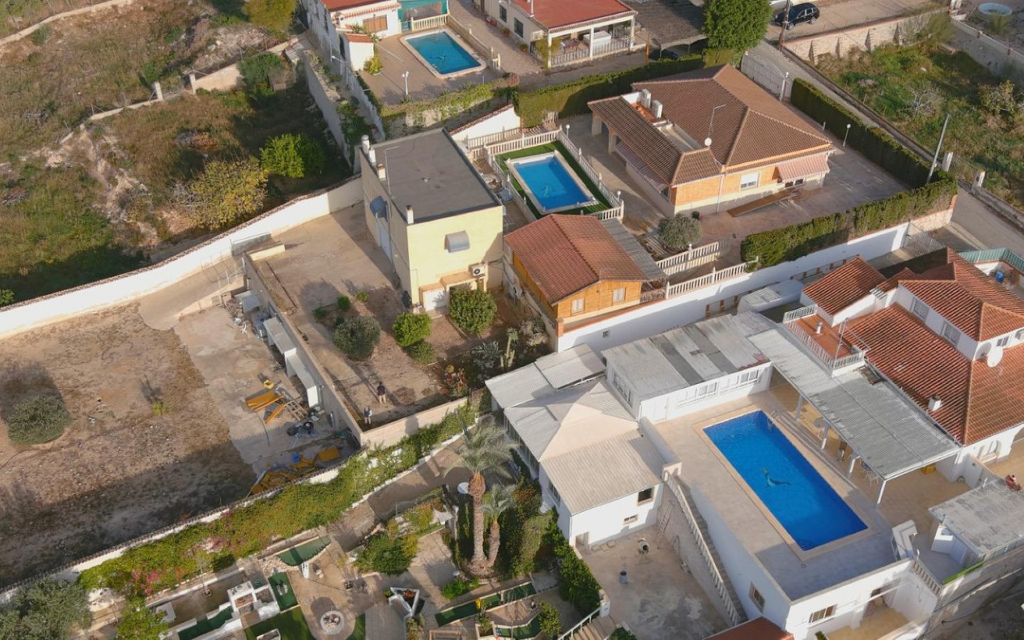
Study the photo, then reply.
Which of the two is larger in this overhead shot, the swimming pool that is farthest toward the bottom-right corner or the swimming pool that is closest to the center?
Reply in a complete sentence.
Compared with the swimming pool that is closest to the center, the swimming pool that is farthest toward the bottom-right corner is the bigger one.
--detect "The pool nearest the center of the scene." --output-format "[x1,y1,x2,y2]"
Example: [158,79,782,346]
[506,153,598,213]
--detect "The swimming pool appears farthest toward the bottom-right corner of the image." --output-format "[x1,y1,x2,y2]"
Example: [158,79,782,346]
[693,403,879,559]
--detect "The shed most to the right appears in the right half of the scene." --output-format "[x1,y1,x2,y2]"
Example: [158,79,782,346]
[928,468,1024,571]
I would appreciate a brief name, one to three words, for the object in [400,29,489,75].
swimming pool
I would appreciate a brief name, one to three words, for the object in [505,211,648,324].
house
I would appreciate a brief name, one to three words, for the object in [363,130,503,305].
house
